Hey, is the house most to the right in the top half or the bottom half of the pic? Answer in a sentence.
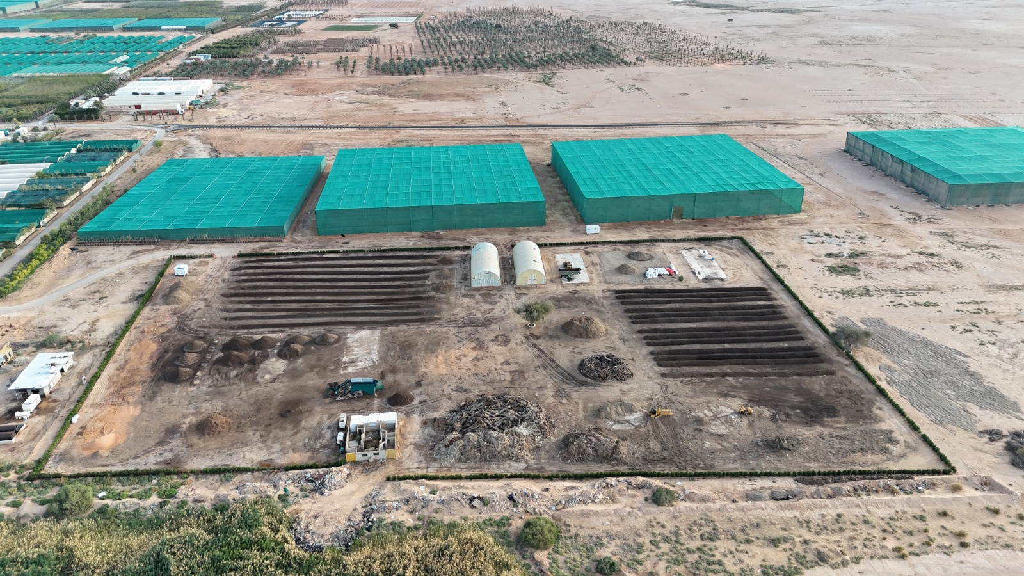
The top half of the photo is where the house most to the right is.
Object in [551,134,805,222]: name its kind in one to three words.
house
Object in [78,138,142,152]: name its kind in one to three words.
greenhouse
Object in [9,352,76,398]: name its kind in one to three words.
shed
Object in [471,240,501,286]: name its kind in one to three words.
hangar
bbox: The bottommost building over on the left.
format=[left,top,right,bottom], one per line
[344,409,400,463]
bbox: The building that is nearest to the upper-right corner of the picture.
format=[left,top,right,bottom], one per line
[841,125,1024,204]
